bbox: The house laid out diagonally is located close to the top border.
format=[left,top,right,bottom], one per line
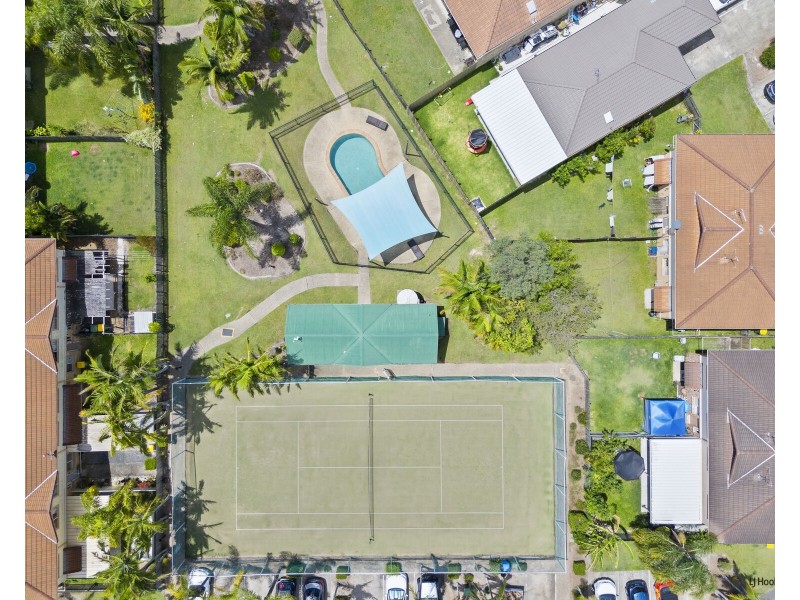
[471,0,722,192]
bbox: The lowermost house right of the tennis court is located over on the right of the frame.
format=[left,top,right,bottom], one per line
[637,348,800,545]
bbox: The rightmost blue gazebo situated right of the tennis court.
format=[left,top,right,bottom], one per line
[638,395,686,436]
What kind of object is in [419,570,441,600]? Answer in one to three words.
car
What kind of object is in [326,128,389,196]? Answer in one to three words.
swimming pool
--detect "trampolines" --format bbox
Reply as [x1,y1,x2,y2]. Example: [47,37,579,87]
[463,130,488,157]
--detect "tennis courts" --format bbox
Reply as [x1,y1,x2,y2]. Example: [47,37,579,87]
[187,383,552,555]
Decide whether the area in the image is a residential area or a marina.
residential area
